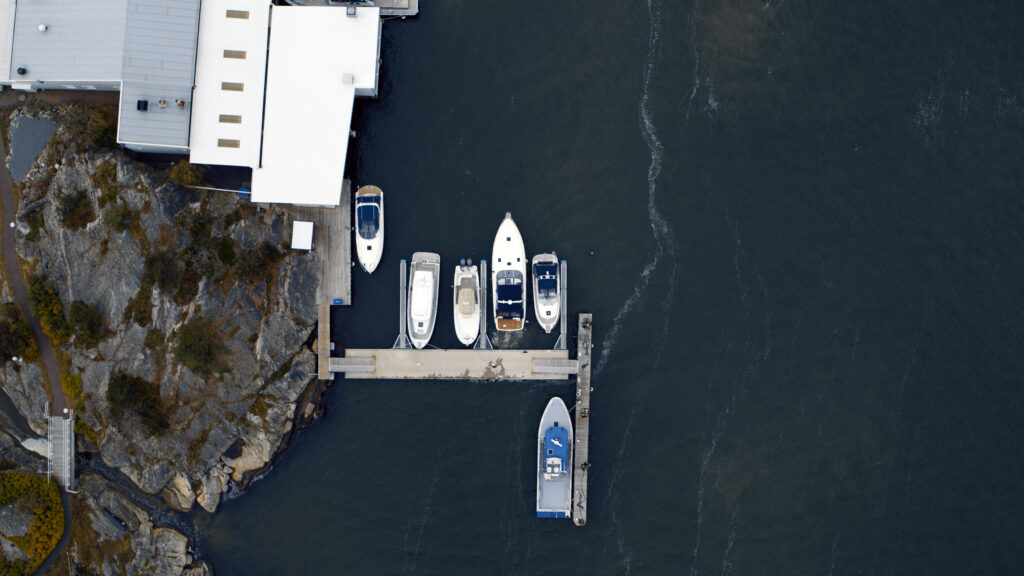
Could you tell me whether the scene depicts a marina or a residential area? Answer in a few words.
marina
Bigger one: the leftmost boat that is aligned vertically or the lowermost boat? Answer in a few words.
the lowermost boat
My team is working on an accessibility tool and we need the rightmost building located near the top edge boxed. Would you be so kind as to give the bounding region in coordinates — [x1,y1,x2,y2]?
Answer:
[251,6,387,207]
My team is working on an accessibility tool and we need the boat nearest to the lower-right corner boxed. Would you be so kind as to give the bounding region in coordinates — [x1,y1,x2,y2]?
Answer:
[536,396,574,519]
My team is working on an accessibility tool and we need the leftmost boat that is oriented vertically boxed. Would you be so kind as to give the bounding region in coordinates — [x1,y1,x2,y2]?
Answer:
[356,185,384,272]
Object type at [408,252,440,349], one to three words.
boat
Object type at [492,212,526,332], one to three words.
boat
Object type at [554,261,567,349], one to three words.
pier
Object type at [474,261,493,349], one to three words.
pier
